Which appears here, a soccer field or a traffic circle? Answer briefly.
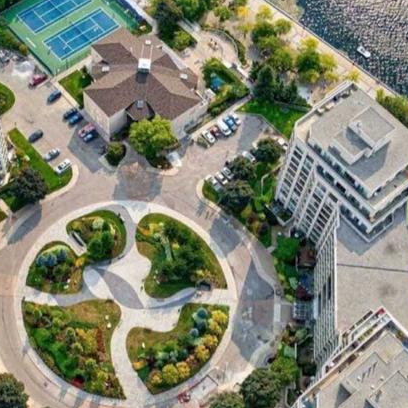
traffic circle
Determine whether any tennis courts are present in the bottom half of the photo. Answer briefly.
No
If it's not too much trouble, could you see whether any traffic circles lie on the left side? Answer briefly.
Yes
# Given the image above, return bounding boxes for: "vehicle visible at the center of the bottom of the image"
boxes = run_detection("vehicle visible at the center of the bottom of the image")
[171,391,191,404]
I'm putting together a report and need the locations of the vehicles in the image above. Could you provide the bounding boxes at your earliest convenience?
[171,391,191,404]
[10,53,26,64]
[215,171,229,184]
[44,149,60,161]
[209,125,222,137]
[62,107,77,119]
[209,176,221,189]
[275,136,288,148]
[56,161,71,173]
[83,132,98,143]
[230,113,243,125]
[47,92,61,102]
[201,129,215,143]
[30,75,45,86]
[221,167,235,179]
[28,131,43,142]
[69,113,83,124]
[216,119,232,135]
[224,117,237,130]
